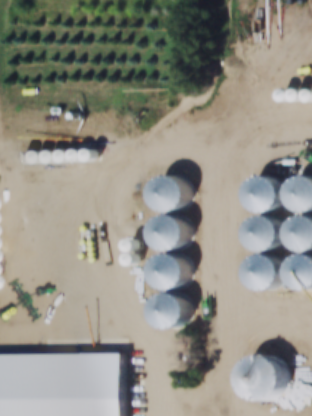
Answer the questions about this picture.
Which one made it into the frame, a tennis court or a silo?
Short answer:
silo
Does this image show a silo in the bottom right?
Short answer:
Yes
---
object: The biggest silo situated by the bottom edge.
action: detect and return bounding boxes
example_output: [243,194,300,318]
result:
[230,350,290,400]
